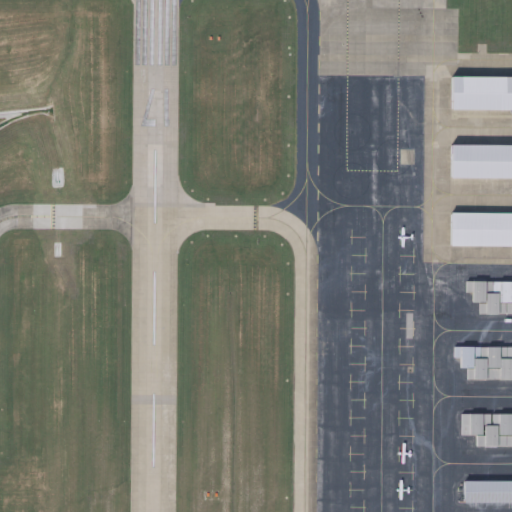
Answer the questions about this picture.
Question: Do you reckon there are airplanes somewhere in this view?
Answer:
Yes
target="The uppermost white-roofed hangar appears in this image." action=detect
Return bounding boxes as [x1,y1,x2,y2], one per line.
[451,76,512,110]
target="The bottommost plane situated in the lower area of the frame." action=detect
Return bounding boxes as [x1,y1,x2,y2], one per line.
[396,480,412,500]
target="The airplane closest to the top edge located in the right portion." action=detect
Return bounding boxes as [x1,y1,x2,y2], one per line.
[398,227,414,248]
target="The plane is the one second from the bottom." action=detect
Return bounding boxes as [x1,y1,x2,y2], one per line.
[398,443,414,464]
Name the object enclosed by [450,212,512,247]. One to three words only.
hangar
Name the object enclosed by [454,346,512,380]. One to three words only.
hangar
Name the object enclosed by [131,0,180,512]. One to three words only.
runway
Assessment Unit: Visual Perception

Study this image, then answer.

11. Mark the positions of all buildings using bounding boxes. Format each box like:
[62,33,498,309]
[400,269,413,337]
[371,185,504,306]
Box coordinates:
[464,480,512,504]
[461,414,512,448]
[466,281,512,315]
[450,144,512,179]
[450,212,512,247]
[454,346,512,380]
[451,76,512,110]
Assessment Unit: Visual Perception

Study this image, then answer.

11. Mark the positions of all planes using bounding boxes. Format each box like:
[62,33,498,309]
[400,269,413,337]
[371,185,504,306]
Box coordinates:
[398,443,414,464]
[398,227,414,248]
[396,480,412,500]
